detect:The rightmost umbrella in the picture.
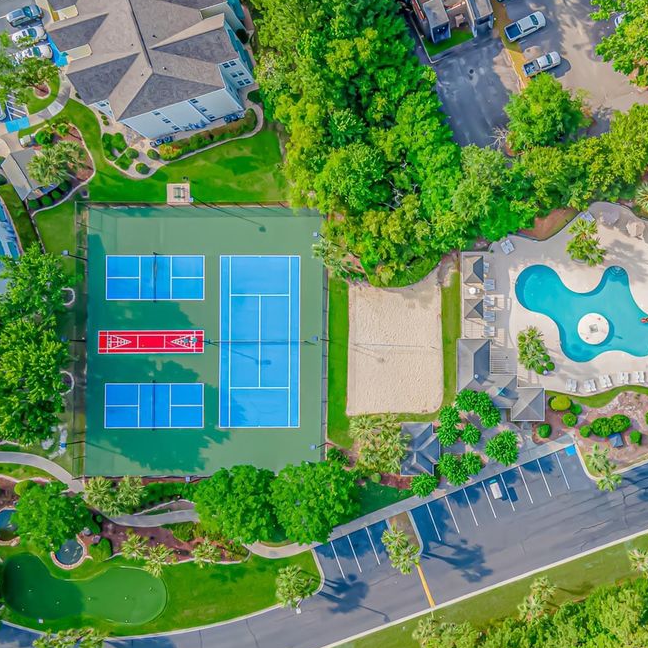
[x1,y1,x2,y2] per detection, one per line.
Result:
[626,219,645,237]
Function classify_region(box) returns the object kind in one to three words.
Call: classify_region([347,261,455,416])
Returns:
sports court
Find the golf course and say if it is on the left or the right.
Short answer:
left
